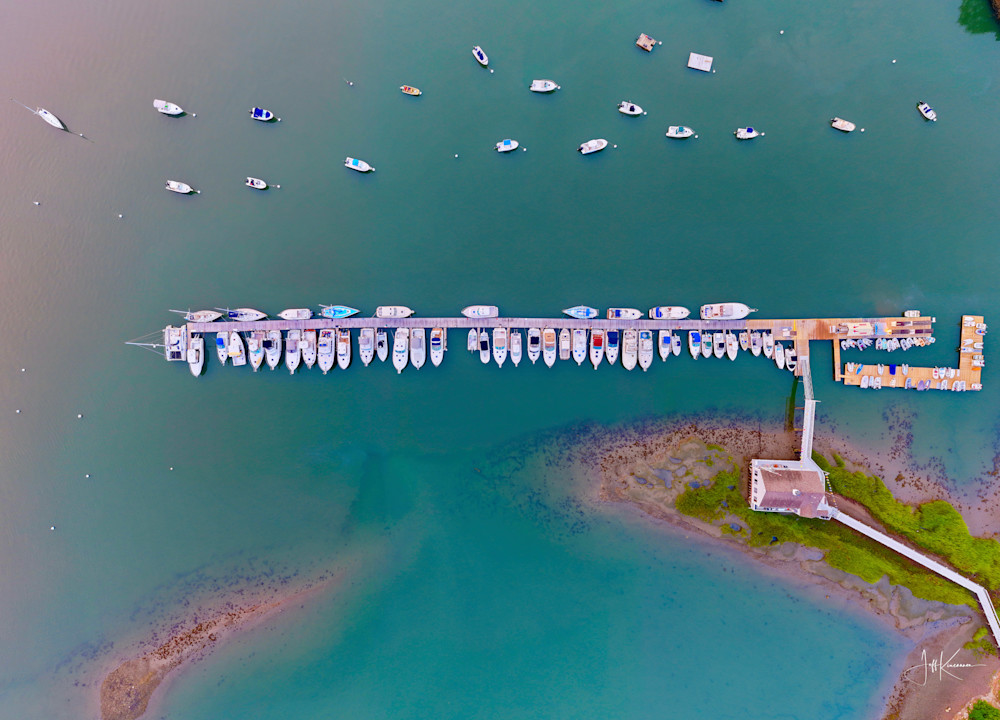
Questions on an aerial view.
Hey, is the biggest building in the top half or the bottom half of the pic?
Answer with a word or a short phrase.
bottom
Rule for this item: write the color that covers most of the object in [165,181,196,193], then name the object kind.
white boat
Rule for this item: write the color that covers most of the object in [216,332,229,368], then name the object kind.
white boat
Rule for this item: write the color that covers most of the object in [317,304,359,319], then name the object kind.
blue boat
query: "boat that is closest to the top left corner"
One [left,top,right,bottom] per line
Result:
[10,98,78,134]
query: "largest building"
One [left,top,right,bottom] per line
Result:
[748,458,837,523]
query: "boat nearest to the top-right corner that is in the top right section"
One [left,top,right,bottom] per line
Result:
[915,103,936,119]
